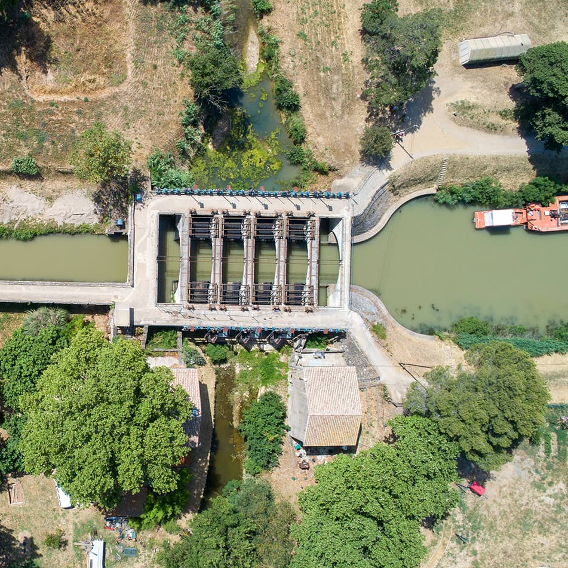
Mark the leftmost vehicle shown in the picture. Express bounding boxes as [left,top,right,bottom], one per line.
[53,479,73,510]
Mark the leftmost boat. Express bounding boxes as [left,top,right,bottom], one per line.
[469,208,527,230]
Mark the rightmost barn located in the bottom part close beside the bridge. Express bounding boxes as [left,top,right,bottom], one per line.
[297,366,362,446]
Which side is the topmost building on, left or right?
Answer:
right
